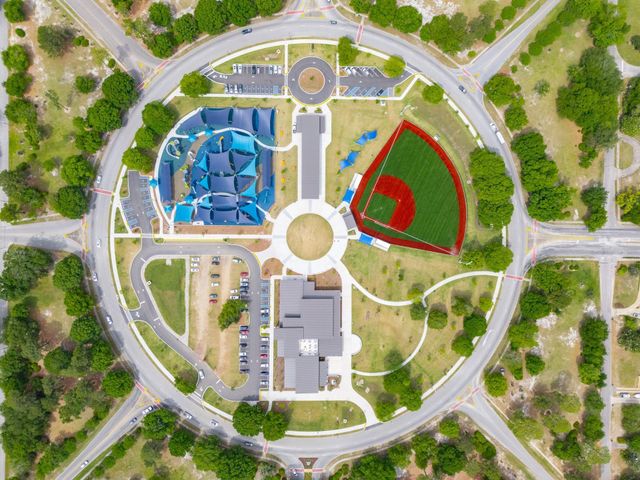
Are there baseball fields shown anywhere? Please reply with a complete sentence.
Yes, the frame does contain a baseball field.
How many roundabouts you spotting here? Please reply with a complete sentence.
Altogether the scene contains 2 roundabouts.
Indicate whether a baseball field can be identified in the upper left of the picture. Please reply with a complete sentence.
No, I see no baseball field in the upper left of the picture.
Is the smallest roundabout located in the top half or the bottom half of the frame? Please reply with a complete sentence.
It is in the top half that the smallest roundabout appears.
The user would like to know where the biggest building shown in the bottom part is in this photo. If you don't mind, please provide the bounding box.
[274,279,343,393]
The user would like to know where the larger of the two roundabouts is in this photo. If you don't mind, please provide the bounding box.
[89,18,526,458]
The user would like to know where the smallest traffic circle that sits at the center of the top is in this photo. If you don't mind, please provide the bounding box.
[288,56,336,106]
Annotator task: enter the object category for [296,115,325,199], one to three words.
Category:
building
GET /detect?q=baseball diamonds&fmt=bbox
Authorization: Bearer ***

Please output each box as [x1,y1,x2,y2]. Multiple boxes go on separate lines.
[351,121,466,255]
